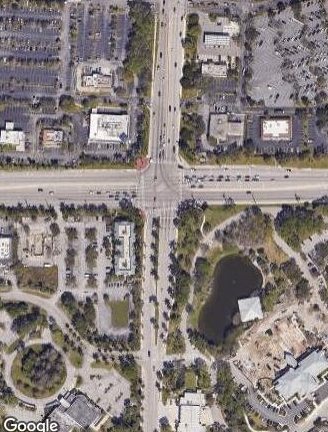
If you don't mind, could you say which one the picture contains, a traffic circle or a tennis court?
traffic circle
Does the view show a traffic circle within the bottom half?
Yes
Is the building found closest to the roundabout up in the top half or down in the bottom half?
bottom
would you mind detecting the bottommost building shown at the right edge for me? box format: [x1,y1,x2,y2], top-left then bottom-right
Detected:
[271,344,328,404]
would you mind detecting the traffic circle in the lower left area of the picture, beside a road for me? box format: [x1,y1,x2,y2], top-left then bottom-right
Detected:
[4,335,73,404]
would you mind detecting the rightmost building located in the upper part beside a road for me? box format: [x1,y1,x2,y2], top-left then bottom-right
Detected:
[260,115,293,141]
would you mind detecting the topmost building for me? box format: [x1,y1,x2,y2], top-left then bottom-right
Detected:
[202,63,227,77]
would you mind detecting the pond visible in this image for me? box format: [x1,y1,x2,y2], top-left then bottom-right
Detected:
[198,254,263,343]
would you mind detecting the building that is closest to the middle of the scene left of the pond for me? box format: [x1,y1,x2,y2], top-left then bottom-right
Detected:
[113,221,135,276]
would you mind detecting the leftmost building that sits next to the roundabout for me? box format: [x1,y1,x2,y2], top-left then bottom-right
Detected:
[45,390,102,432]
